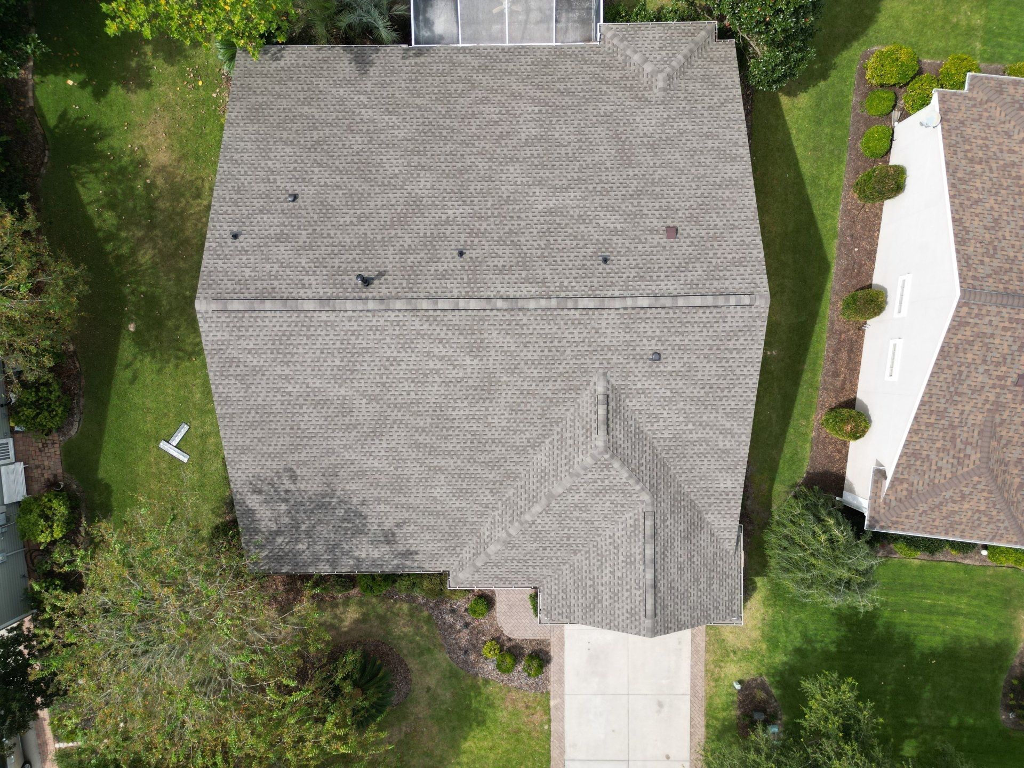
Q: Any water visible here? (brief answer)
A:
No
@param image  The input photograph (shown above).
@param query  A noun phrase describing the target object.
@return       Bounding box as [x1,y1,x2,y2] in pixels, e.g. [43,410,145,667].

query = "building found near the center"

[195,19,770,634]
